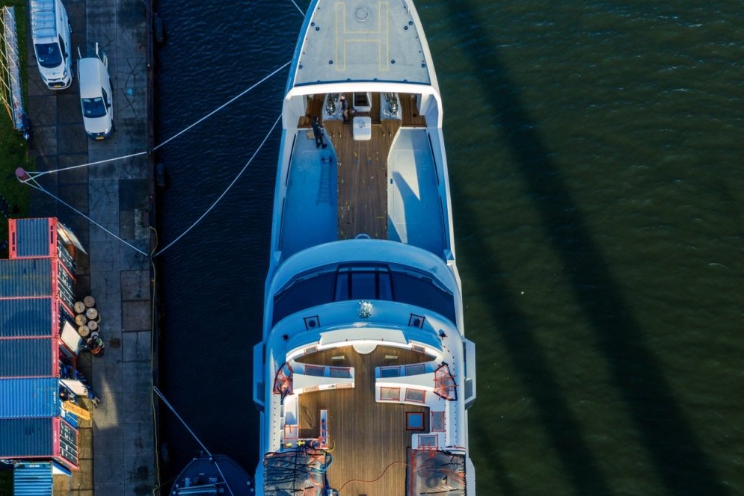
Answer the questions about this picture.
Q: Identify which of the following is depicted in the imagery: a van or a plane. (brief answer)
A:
van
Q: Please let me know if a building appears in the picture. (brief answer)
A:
No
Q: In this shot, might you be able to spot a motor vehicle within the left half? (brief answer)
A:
Yes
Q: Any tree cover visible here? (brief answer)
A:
No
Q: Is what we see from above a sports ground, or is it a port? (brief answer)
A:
port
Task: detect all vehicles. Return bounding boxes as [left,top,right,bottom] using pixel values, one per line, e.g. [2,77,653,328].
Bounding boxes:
[73,35,118,136]
[29,0,75,84]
